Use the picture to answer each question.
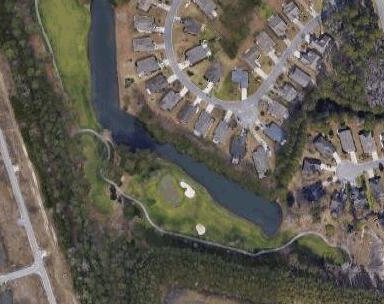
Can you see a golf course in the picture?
Yes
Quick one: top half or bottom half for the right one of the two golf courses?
bottom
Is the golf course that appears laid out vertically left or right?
left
